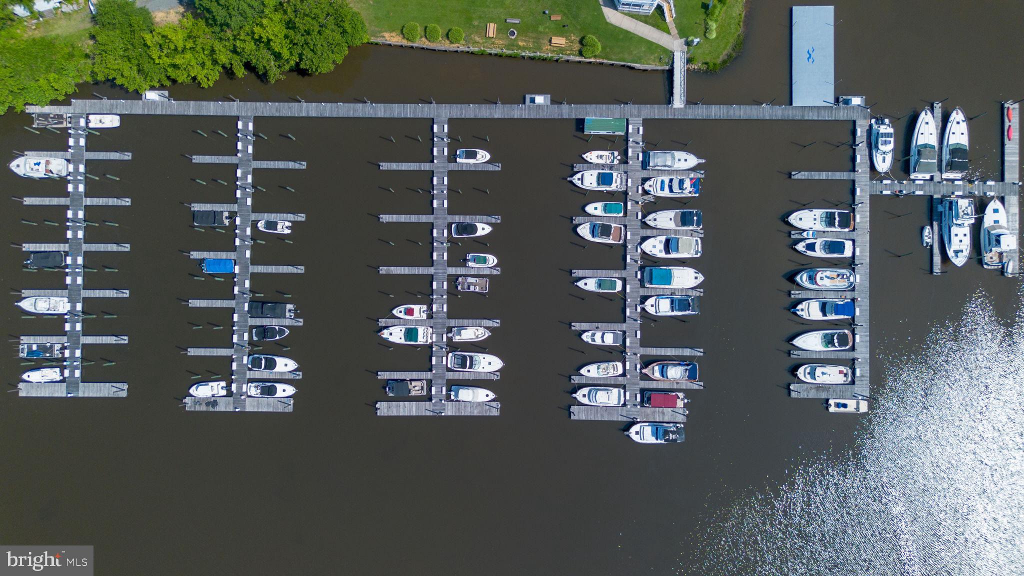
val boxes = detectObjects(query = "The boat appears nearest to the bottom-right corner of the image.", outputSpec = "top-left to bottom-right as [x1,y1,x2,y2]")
[818,399,868,412]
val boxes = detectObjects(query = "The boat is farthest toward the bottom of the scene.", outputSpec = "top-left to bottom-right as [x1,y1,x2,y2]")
[624,422,685,443]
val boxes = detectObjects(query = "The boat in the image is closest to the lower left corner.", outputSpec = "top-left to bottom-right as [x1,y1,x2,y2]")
[19,368,64,383]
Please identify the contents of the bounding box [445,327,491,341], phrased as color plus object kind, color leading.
white boat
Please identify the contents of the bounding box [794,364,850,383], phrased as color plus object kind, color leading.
white boat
